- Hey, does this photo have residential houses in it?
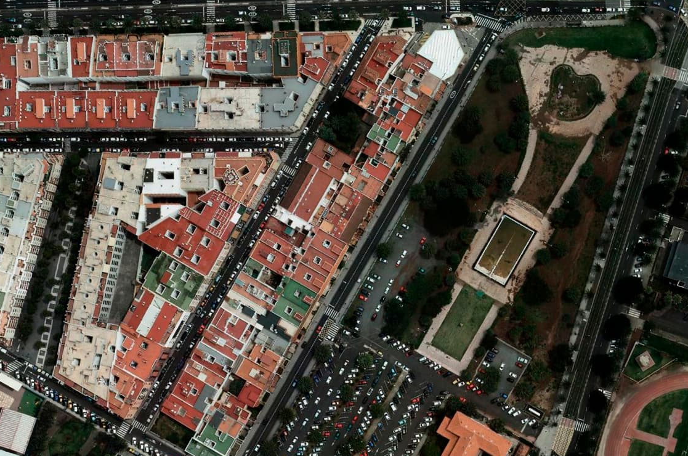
Yes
